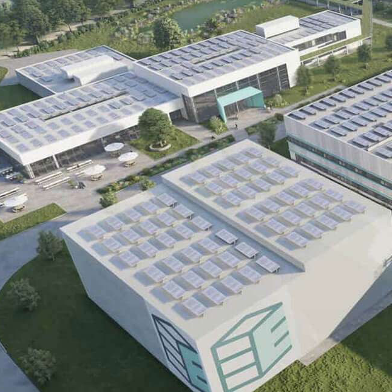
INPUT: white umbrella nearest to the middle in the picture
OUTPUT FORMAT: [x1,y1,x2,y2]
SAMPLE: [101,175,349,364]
[115,151,141,166]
